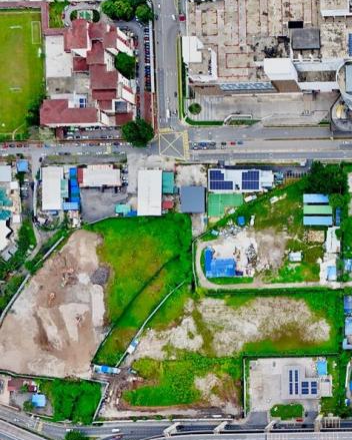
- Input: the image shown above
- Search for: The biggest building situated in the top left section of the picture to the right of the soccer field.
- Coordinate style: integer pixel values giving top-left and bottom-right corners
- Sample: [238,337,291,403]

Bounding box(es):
[40,20,139,127]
